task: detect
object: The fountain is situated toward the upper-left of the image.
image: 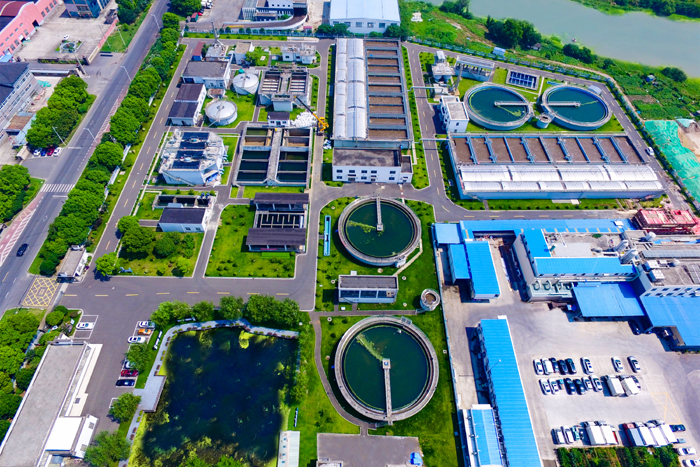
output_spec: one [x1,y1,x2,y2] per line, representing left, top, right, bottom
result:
[50,39,88,56]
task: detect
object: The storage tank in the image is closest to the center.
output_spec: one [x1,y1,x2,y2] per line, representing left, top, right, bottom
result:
[338,193,422,268]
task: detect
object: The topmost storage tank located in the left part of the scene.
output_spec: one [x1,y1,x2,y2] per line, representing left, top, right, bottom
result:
[232,68,260,100]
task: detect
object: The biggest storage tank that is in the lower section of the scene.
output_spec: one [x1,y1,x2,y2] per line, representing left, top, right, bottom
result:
[334,315,440,423]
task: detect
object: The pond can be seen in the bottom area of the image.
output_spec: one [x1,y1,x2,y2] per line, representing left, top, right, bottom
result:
[139,325,300,467]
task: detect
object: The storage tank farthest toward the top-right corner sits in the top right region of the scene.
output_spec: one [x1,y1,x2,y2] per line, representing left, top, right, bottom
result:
[537,79,615,133]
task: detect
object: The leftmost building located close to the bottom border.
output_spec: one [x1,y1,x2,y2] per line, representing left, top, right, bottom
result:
[0,345,108,467]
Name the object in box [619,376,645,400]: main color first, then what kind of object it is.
white truck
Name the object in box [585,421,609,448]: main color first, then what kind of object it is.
white truck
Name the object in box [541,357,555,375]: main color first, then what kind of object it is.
white vehicle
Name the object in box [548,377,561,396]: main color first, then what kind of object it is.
white vehicle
